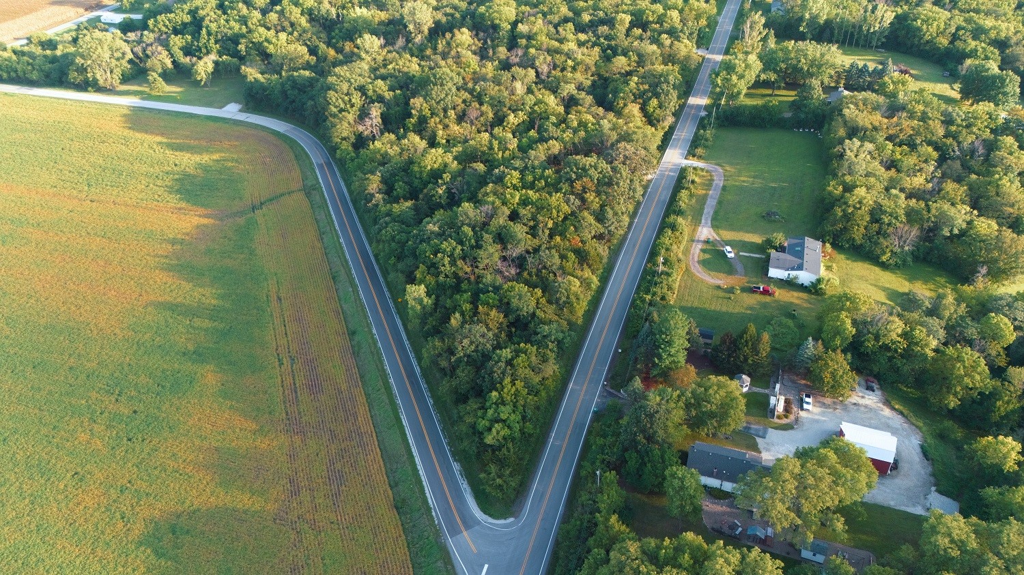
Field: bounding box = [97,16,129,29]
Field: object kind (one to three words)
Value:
barn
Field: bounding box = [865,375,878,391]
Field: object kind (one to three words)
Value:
vehicle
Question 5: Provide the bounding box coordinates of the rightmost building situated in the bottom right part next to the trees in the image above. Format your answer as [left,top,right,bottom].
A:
[840,424,896,476]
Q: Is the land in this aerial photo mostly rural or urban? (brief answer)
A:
rural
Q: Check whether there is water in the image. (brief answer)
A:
No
